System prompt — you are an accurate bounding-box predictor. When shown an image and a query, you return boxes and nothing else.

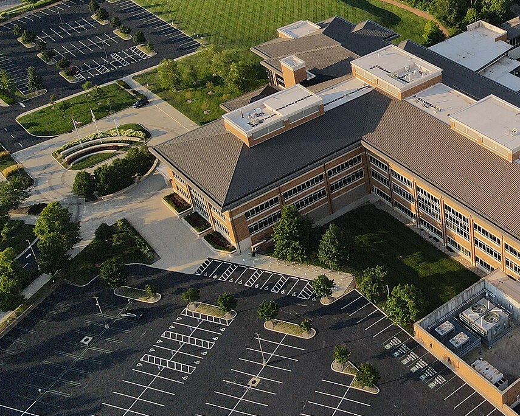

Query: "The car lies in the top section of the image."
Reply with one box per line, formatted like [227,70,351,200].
[132,93,149,106]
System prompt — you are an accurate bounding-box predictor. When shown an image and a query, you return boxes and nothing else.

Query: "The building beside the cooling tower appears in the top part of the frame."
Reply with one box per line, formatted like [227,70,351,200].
[147,14,520,303]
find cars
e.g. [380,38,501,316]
[132,93,149,106]
[117,305,145,321]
